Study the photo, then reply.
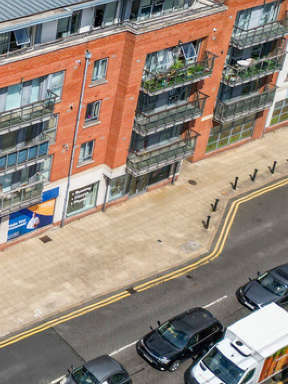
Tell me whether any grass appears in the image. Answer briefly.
No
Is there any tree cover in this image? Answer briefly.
No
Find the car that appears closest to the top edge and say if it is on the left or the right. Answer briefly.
right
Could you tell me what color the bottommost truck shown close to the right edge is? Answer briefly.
white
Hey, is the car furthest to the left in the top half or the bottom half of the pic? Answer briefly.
bottom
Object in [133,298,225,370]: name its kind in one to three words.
car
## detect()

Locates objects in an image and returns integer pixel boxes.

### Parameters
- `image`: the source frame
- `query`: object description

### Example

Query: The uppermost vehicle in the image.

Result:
[234,256,288,309]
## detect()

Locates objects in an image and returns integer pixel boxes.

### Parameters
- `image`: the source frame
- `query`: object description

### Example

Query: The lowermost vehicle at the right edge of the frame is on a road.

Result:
[189,294,288,384]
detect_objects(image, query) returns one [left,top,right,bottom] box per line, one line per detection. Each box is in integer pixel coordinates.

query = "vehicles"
[234,256,288,309]
[133,298,225,370]
[189,294,288,384]
[62,347,145,384]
